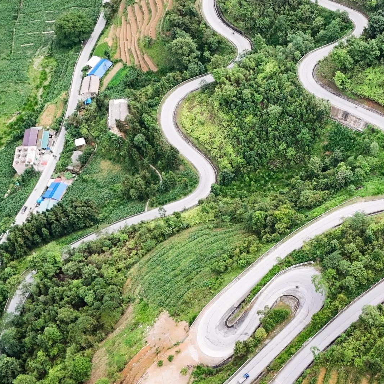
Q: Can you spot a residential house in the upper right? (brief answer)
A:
No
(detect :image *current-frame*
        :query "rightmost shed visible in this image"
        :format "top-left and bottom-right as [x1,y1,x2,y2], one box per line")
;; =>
[105,100,131,130]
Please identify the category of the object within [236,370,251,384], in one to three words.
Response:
vehicle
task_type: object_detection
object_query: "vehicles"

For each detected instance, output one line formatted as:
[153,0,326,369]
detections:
[20,205,27,213]
[236,370,251,384]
